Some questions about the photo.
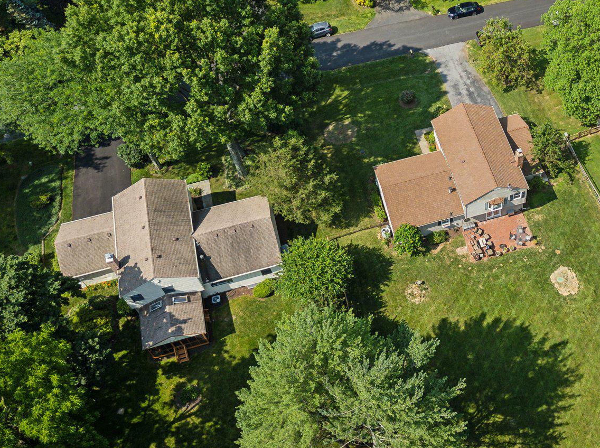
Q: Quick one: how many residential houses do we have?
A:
2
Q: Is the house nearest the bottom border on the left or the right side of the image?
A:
left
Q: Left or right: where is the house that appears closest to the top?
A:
right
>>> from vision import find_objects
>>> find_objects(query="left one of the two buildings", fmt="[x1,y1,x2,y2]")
[54,179,282,362]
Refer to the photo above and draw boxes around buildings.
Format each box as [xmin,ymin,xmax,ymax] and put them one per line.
[373,102,545,240]
[54,179,282,362]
